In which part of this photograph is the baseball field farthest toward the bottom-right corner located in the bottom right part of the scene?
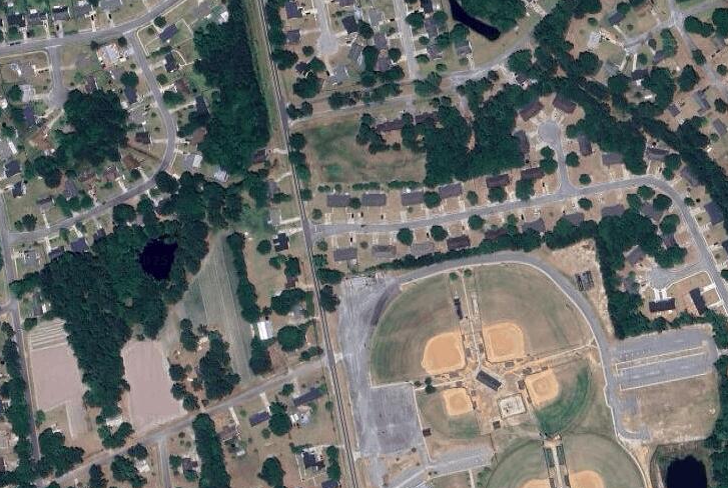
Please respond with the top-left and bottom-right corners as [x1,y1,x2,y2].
[562,432,645,488]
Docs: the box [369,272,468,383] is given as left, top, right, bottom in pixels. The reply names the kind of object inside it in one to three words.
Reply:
baseball field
